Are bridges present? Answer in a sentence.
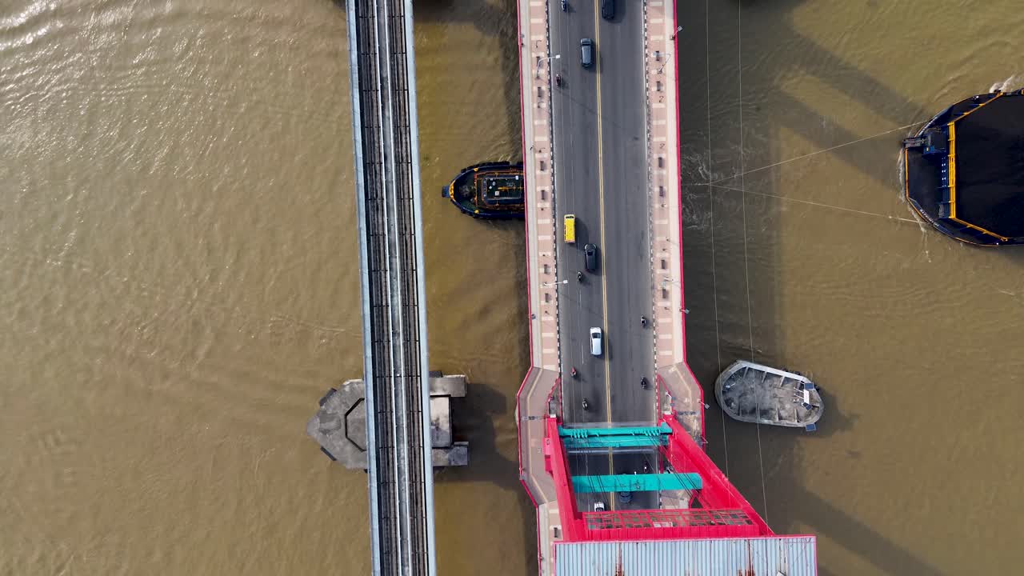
Yes, there is a bridge in the image.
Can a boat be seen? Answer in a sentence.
Yes, there's a boat here.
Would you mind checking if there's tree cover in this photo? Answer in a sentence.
No, the picture contains no tree cover.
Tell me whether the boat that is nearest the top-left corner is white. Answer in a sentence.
No, from above the boat that is nearest the top-left corner looks black.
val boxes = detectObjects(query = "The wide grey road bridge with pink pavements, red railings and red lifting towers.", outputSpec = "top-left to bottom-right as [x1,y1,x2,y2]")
[515,0,817,576]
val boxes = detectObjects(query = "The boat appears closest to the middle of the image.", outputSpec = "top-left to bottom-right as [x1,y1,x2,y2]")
[442,159,526,221]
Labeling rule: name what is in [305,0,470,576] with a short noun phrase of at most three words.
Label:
bridge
